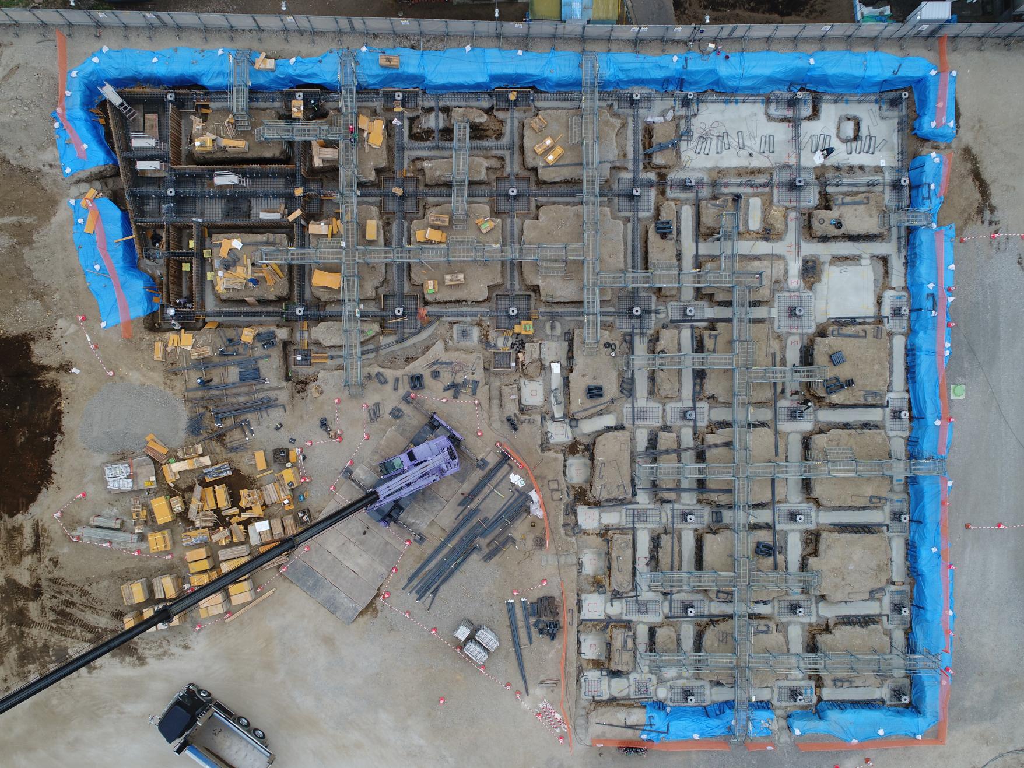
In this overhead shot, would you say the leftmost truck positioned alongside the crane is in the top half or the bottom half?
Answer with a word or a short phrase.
bottom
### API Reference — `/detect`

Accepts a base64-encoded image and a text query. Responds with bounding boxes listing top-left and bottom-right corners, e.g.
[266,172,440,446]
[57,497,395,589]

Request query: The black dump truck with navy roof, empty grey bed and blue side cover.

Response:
[149,678,280,768]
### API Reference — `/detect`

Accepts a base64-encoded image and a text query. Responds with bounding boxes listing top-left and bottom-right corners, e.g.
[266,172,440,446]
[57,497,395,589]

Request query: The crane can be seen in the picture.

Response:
[0,395,487,711]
